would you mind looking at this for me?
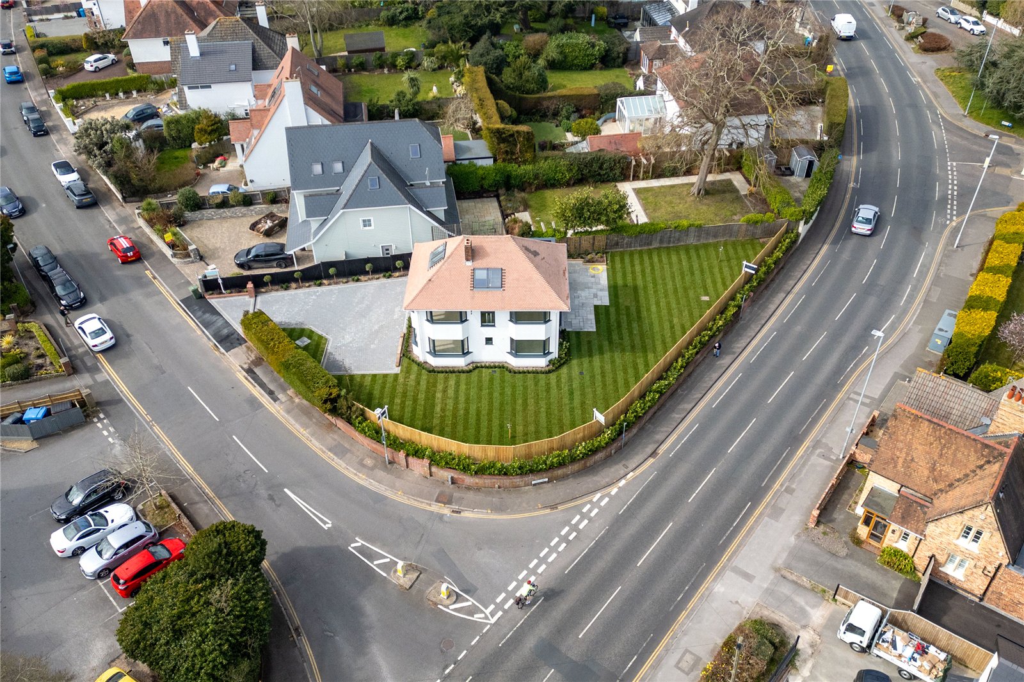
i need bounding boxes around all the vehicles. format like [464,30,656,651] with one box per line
[0,0,13,12]
[199,181,247,202]
[83,55,118,72]
[851,206,880,238]
[931,7,958,24]
[110,237,140,266]
[847,602,947,682]
[79,520,161,583]
[0,183,27,218]
[64,181,96,209]
[48,468,136,529]
[77,315,115,356]
[27,239,63,279]
[50,159,81,187]
[106,539,192,602]
[2,67,24,85]
[47,266,88,309]
[17,96,39,123]
[233,242,294,268]
[0,39,16,56]
[47,503,139,566]
[122,101,162,122]
[831,16,857,44]
[954,14,985,35]
[26,113,51,138]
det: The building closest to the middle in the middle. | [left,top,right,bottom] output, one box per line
[403,229,572,366]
